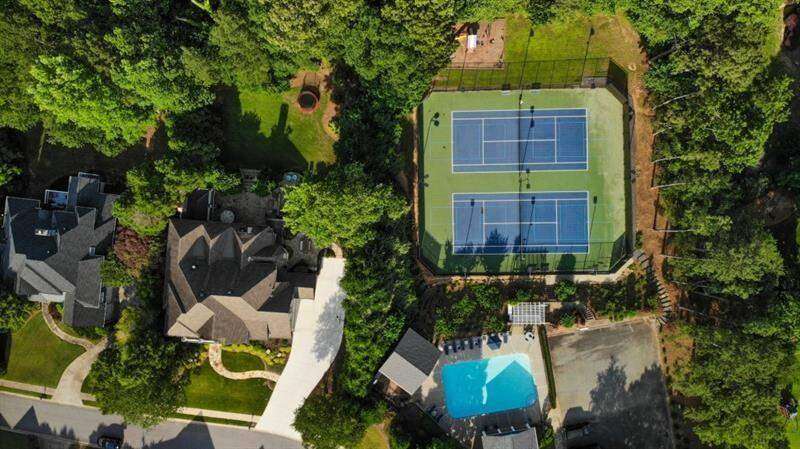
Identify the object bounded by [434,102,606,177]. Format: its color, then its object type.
blue tennis court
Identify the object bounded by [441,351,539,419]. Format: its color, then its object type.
blue swimming pool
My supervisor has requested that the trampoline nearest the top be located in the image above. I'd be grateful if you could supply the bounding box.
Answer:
[297,88,318,109]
